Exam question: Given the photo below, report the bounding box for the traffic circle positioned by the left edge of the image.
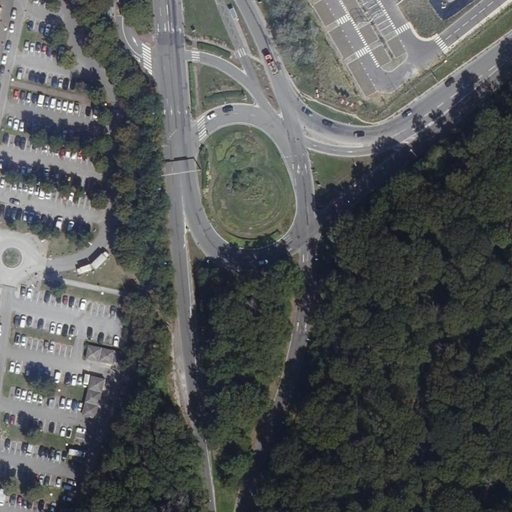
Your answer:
[0,230,48,288]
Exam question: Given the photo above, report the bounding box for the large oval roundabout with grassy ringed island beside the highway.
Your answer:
[182,103,314,270]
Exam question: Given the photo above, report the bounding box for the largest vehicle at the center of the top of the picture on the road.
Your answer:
[263,52,278,74]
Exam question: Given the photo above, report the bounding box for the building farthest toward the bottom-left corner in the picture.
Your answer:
[82,376,105,419]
